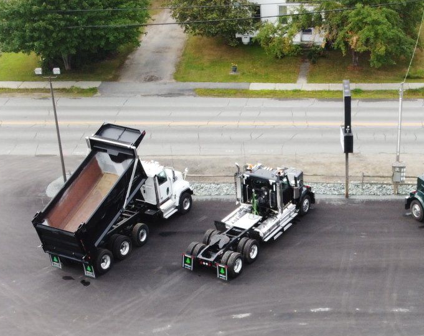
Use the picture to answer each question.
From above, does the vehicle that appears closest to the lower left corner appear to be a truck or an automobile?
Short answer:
truck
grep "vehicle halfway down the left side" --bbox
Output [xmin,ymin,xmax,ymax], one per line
[27,119,195,276]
